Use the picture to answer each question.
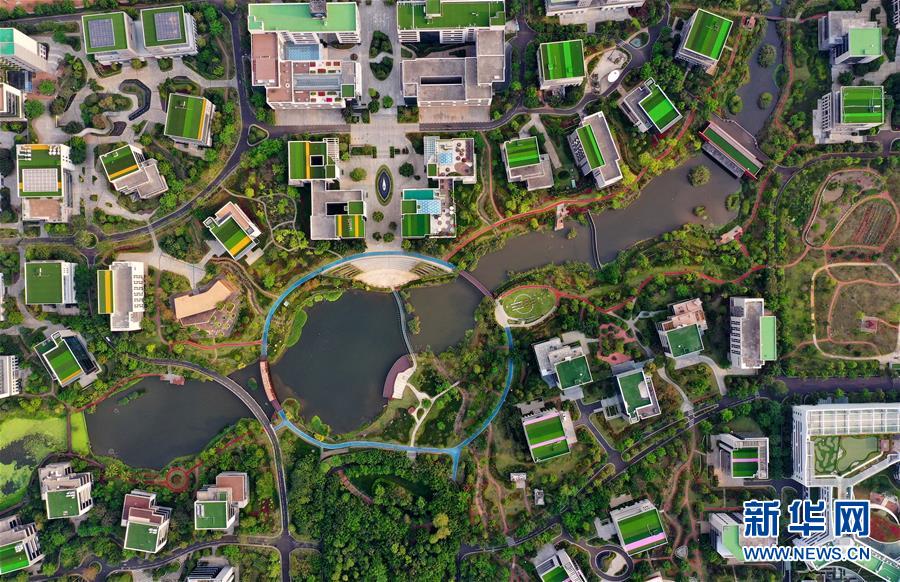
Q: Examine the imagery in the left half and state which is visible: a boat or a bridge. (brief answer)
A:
bridge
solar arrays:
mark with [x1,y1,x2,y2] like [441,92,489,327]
[88,18,116,48]
[22,168,59,192]
[154,11,182,42]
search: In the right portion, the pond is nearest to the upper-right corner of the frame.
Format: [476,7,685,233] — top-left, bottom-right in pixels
[729,0,788,156]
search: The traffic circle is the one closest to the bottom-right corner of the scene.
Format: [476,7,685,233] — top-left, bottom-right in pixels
[589,545,634,581]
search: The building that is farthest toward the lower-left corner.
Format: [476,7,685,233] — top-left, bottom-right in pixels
[0,510,52,574]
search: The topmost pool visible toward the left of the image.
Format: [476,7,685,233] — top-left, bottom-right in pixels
[287,47,319,60]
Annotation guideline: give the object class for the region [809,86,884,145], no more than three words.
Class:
building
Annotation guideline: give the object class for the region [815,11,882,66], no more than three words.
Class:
building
